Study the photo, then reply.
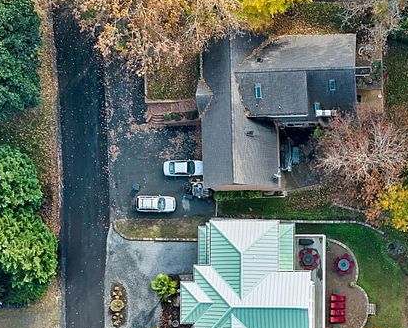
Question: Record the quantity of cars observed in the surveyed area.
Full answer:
In total, there are 2 cars in the scene.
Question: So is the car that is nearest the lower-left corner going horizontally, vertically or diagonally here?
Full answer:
The car that is nearest the lower-left corner has been laid out horizontally relative to the frame.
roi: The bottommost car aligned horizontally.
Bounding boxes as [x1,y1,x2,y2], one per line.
[133,193,179,215]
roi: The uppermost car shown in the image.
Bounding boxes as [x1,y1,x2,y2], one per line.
[162,157,204,179]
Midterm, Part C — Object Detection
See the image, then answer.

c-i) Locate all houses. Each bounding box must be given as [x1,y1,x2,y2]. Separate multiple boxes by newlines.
[196,20,372,195]
[179,220,328,328]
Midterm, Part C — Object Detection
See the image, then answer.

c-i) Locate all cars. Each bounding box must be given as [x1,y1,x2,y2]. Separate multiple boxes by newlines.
[162,157,204,179]
[133,193,179,215]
